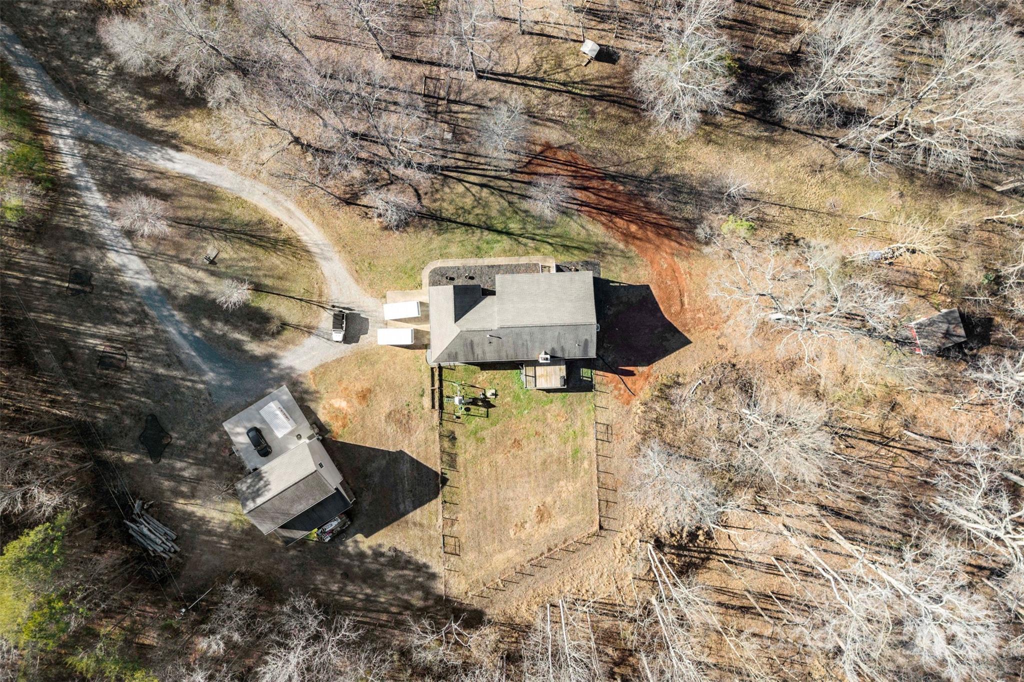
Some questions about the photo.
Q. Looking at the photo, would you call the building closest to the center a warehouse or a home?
home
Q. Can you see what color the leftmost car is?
black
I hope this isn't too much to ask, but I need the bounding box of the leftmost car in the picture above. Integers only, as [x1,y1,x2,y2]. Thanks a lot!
[247,425,271,458]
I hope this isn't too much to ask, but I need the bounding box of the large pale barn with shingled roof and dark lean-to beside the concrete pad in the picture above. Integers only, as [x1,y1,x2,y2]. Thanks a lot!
[237,440,356,546]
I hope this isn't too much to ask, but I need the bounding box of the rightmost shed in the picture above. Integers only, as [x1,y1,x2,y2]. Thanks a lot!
[903,308,966,355]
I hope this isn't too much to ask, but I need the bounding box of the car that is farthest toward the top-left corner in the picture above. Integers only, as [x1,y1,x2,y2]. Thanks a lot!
[333,311,350,341]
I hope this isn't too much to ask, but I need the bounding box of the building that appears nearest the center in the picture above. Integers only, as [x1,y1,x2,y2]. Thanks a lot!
[429,263,600,388]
